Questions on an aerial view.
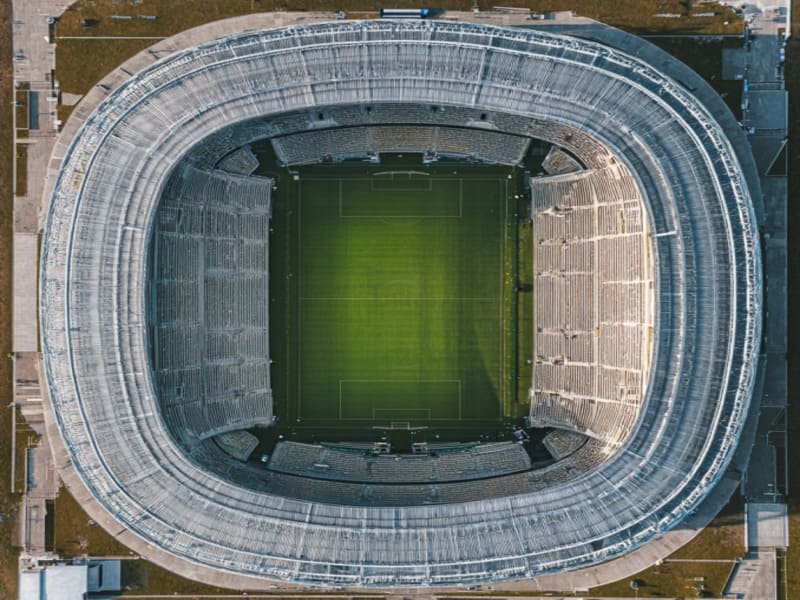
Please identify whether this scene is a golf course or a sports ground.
sports ground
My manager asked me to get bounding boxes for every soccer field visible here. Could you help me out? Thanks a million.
[287,168,505,433]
